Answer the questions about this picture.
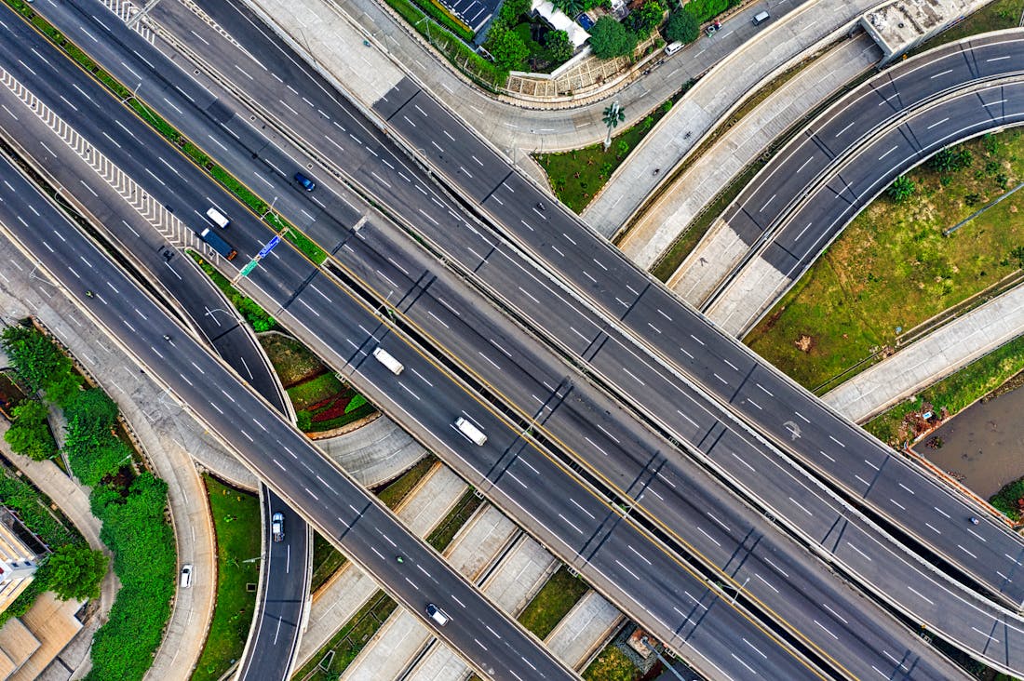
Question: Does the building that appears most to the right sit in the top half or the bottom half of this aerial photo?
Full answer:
You can find the building that appears most to the right in the top half.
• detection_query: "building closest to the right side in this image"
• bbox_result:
[848,0,983,71]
